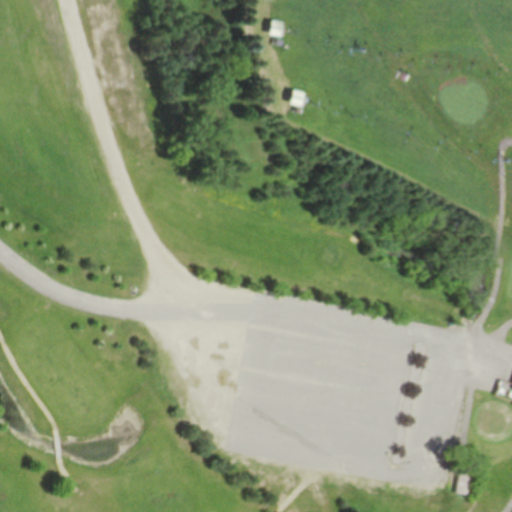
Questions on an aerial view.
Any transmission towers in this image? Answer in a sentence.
No, I can't see a single transmission tower in this photo.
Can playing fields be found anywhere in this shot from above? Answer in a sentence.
Yes, the frame does contain a playing field.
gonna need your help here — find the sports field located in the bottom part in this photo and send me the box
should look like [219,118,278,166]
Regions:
[471,400,512,440]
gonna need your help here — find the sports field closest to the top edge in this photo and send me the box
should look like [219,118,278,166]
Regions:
[438,76,488,125]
